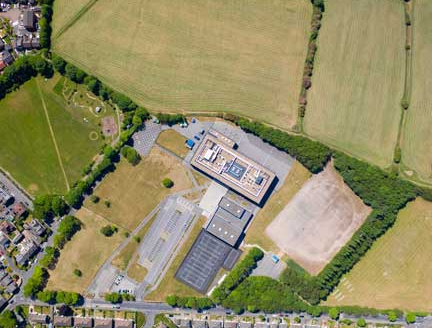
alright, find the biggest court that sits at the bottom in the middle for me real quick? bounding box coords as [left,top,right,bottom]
[174,228,234,294]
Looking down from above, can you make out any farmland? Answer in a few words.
Yes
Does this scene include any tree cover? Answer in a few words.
Yes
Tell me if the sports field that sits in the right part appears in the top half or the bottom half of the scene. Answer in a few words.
bottom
